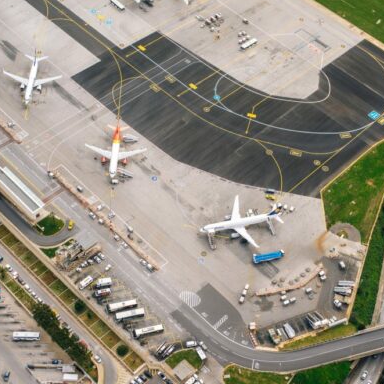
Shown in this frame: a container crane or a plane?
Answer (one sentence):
The image shows a plane.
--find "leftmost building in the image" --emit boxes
[0,167,46,223]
